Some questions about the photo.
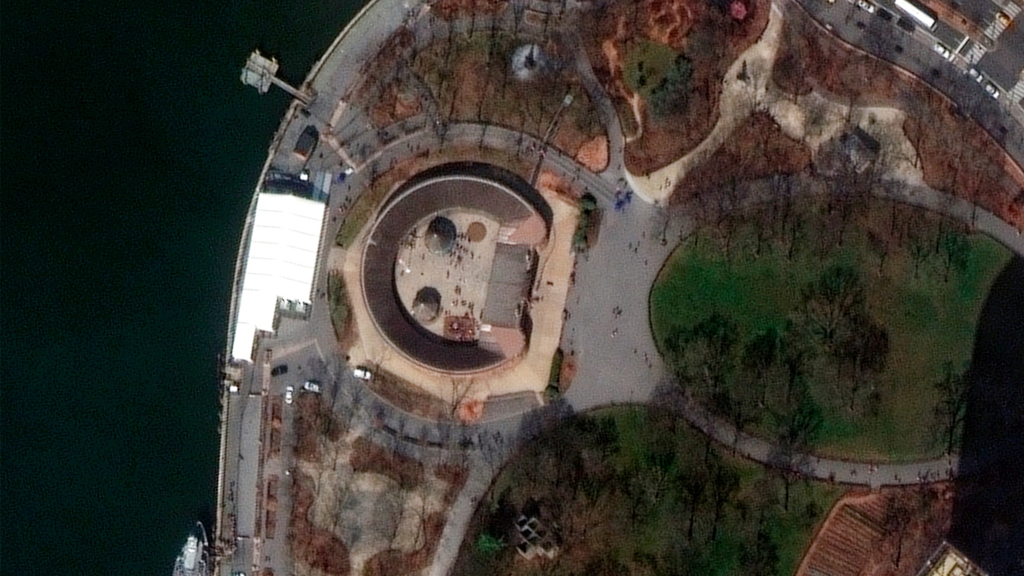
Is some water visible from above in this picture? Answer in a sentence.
Yes, water shows up in the scene.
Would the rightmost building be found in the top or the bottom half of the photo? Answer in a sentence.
The bottom half of the photo is where the rightmost building is.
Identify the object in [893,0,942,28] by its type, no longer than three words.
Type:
bus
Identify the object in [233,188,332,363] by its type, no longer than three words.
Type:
tent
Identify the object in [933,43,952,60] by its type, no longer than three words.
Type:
car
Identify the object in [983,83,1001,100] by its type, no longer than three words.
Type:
car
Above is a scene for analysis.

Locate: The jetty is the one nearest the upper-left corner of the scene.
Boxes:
[238,50,279,100]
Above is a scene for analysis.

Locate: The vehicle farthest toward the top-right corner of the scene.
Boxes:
[994,13,1011,29]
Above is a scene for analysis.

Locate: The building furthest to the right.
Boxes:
[914,459,1024,576]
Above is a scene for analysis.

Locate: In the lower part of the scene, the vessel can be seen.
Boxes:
[173,522,215,576]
